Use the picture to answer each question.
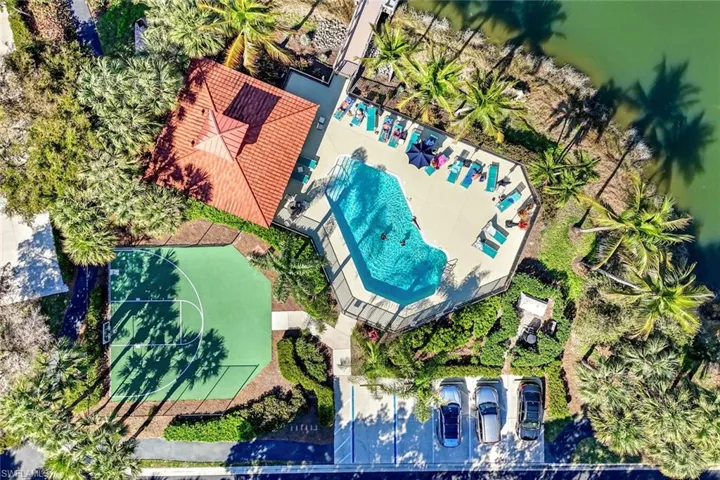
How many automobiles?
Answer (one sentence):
Looking from above, you can make out 3 automobiles.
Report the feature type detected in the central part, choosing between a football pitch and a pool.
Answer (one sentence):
The feature located in the central part is a pool.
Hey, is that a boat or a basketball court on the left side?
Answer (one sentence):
What appears on the left side is a basketball court.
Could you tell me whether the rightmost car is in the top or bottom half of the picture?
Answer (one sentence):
It is in the bottom half that the rightmost car appears.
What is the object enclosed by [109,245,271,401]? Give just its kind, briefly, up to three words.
basketball court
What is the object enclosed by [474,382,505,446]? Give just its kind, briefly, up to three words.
car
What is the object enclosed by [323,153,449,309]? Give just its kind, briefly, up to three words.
swimming pool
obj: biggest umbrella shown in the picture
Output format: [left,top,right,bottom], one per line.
[406,139,436,170]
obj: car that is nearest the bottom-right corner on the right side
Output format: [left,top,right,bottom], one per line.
[514,378,547,440]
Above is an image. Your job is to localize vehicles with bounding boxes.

[474,382,505,446]
[514,378,547,440]
[436,382,466,448]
